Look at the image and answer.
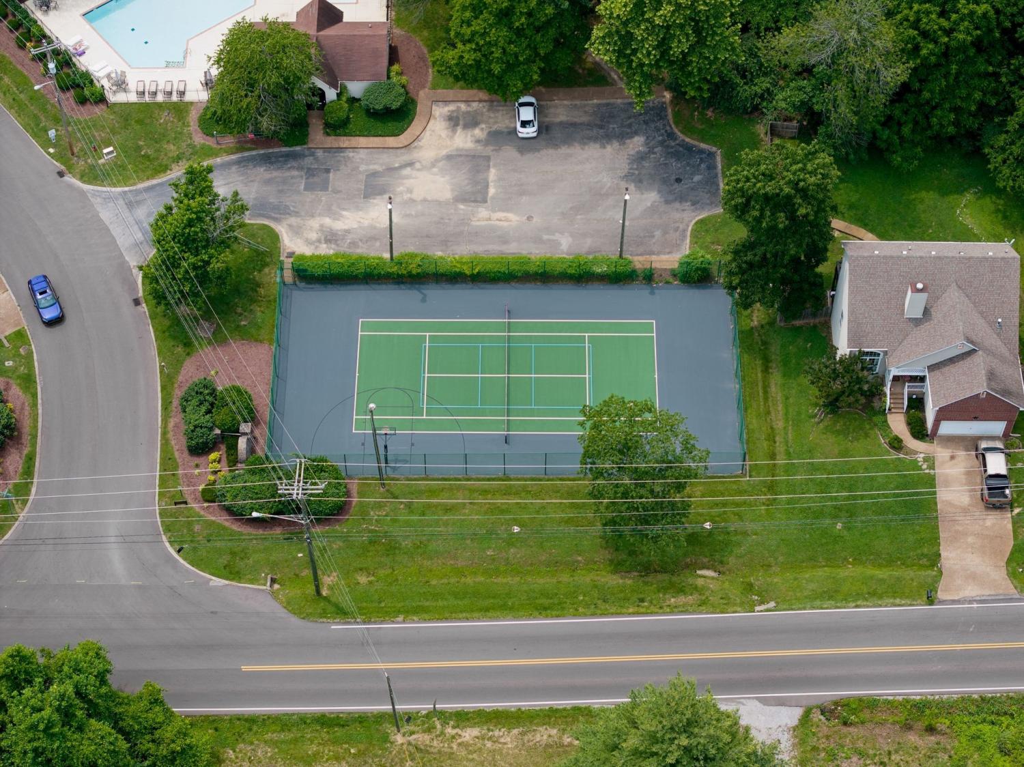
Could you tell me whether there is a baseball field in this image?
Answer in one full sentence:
No, there isn't any baseball field down there.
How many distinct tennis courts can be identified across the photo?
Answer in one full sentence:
The picture shows just 1 tennis court.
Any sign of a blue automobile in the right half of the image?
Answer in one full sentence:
No, there's no blue automobile to be seen in the right half of the image.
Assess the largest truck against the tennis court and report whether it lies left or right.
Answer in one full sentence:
In the image, the largest truck sits on the right side of the tennis court.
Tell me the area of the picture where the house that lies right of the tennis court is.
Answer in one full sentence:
The house that lies right of the tennis court sits in the right section of the image.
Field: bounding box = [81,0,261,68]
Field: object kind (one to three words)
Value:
swimming pool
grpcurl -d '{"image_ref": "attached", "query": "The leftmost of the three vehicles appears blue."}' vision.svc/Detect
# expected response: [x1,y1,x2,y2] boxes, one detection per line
[28,275,64,326]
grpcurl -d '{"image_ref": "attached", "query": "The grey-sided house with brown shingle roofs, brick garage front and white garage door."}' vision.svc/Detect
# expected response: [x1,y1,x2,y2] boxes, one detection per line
[829,241,1024,437]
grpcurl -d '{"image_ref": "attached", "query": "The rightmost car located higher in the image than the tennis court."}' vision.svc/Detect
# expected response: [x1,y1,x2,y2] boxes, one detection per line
[514,97,539,140]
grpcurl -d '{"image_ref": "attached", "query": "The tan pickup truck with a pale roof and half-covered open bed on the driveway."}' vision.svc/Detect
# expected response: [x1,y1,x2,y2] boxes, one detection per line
[976,439,1012,509]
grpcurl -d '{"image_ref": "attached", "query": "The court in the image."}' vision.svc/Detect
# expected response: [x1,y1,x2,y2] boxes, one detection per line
[269,282,745,479]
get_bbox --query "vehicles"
[514,97,539,140]
[28,275,64,326]
[976,439,1012,509]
